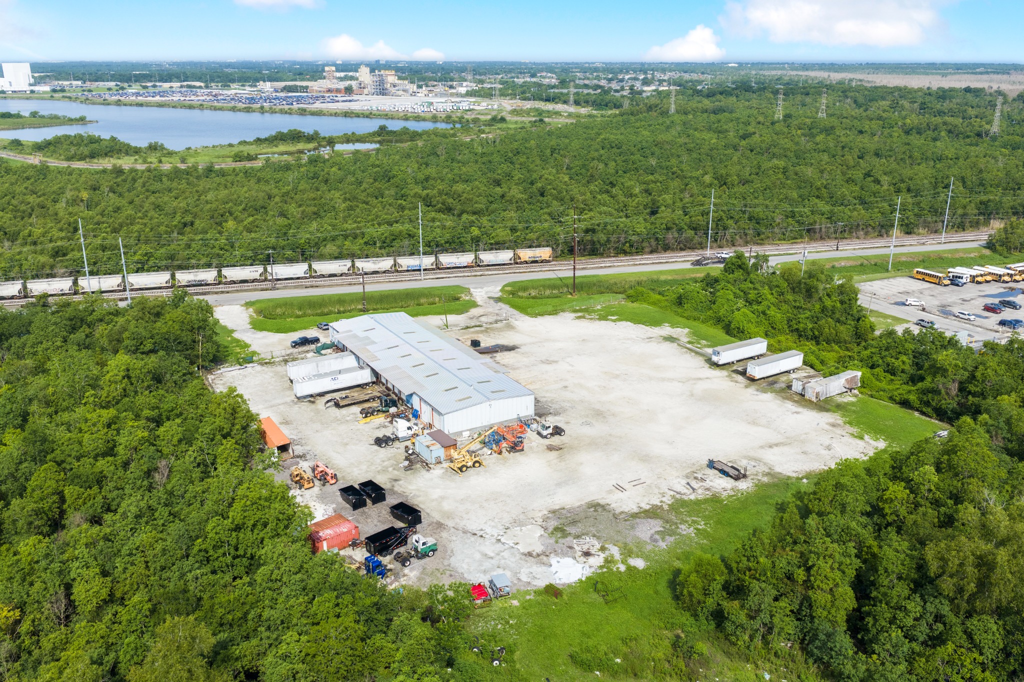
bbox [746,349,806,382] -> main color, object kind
white trailer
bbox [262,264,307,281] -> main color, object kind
white rail car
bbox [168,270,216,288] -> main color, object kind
white rail car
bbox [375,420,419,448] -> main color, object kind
white truck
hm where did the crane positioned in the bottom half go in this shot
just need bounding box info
[446,424,497,477]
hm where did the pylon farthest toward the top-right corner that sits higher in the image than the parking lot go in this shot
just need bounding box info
[988,93,1005,131]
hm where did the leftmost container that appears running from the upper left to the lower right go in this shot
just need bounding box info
[261,417,298,463]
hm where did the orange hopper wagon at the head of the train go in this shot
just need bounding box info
[515,247,553,263]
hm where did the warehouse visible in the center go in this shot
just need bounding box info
[329,312,537,437]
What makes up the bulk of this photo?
trees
